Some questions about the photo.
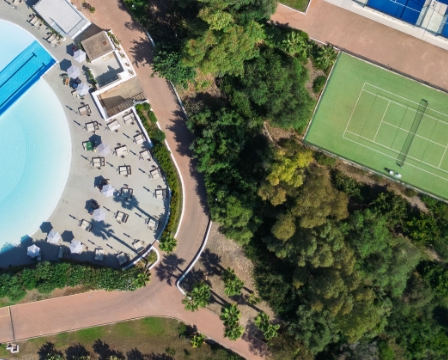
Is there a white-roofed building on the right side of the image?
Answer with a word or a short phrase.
No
